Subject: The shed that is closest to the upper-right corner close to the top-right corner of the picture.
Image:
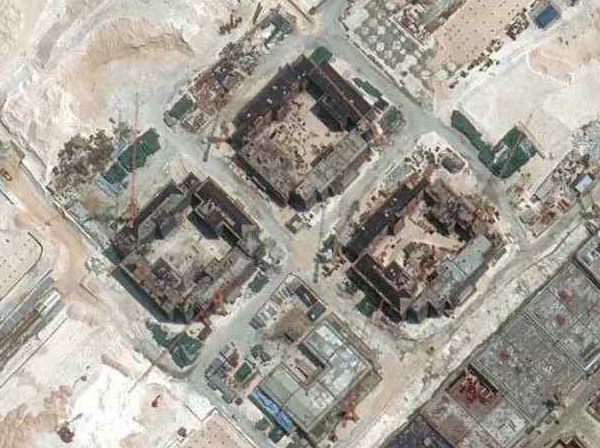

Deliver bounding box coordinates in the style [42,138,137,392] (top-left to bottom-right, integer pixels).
[534,5,560,28]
